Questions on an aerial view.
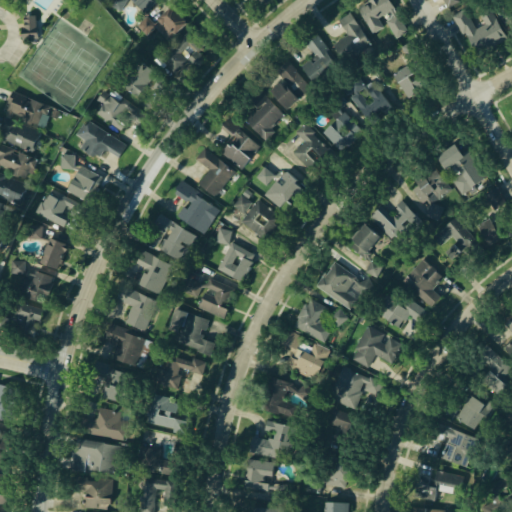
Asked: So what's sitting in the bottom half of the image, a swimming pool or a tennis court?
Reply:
swimming pool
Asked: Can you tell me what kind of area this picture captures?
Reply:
residential area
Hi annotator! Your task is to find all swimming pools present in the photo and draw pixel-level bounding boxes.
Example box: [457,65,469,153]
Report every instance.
[18,238,48,256]
[316,116,330,126]
[27,0,65,24]
[290,392,309,408]
[51,165,76,188]
[121,4,140,28]
[276,464,298,482]
[156,431,178,460]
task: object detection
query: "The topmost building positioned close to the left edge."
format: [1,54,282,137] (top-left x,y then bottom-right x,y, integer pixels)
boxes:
[20,14,39,43]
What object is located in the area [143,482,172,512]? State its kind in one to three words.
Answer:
house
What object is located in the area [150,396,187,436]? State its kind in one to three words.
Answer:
house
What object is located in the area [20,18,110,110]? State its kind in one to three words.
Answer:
tennis court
